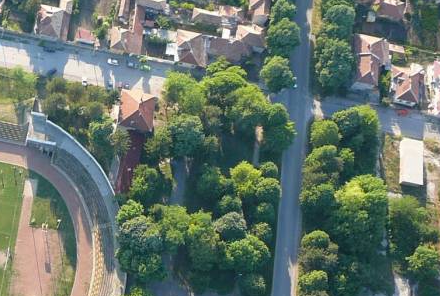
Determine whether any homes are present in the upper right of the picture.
Yes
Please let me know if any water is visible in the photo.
No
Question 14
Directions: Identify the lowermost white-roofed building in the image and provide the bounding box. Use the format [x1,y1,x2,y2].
[395,138,423,189]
